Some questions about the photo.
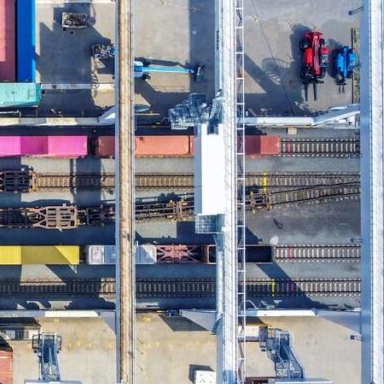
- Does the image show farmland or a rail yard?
rail yard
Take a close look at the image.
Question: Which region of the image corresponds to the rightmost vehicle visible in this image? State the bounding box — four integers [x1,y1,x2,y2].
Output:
[332,48,355,92]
